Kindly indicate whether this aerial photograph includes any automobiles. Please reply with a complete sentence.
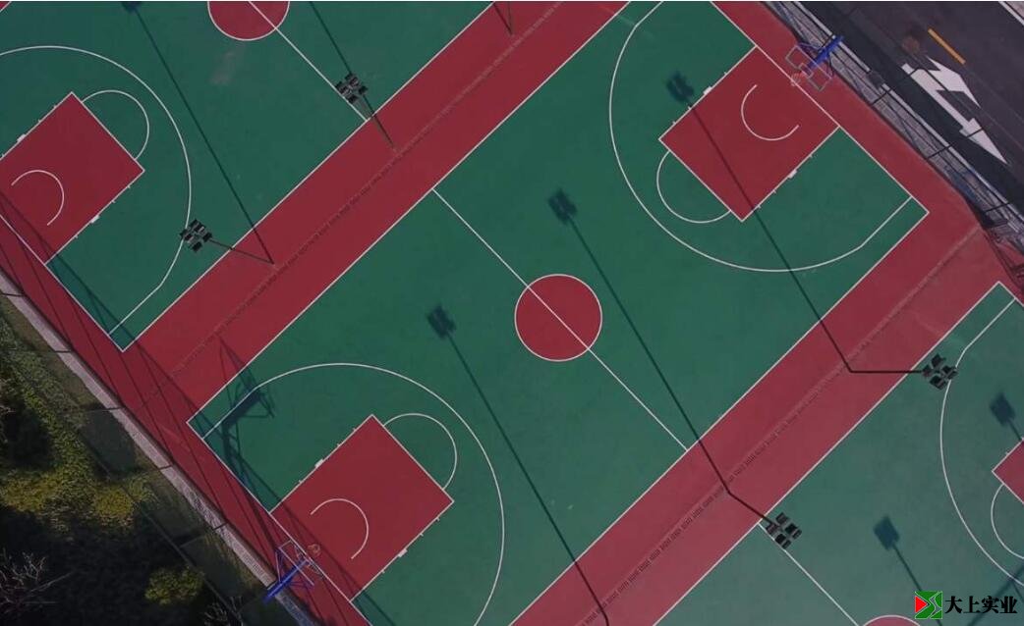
No, the picture doesn't show any automobile.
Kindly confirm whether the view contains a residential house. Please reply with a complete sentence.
No, the scene contains no residential house.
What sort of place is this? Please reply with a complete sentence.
The area seen from above is a sports ground.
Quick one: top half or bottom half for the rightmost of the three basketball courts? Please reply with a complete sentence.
Seen from above, the rightmost of the three basketball courts lies in the bottom half of the view.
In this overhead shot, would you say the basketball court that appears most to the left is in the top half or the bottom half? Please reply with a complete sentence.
The basketball court that appears most to the left is in the top half of the image.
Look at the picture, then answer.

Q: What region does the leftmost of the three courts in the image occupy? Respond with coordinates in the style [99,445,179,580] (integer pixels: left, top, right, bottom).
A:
[0,0,495,352]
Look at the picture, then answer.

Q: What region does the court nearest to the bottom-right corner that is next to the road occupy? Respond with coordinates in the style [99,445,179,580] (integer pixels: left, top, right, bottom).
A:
[653,280,1024,626]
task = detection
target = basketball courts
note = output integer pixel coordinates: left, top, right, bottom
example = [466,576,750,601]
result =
[0,0,495,352]
[187,0,931,626]
[653,280,1024,626]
